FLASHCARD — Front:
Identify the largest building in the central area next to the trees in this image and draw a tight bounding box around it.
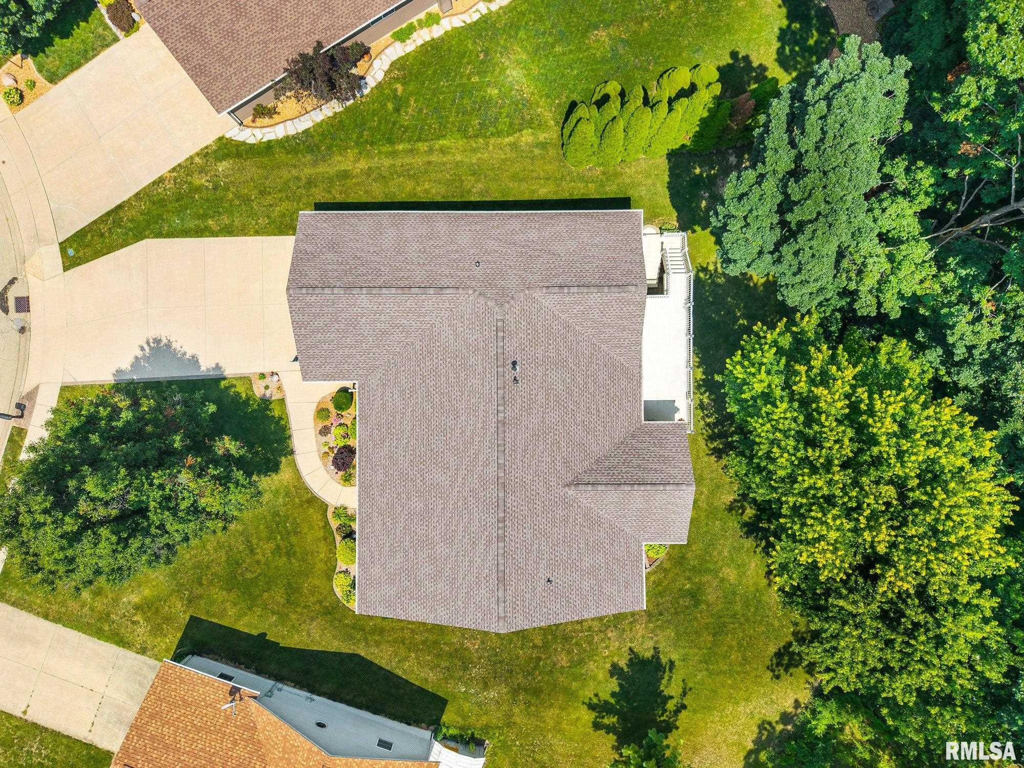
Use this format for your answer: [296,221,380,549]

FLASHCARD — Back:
[285,210,695,636]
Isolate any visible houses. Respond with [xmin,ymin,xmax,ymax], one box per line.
[141,0,455,132]
[111,656,440,768]
[285,210,695,636]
